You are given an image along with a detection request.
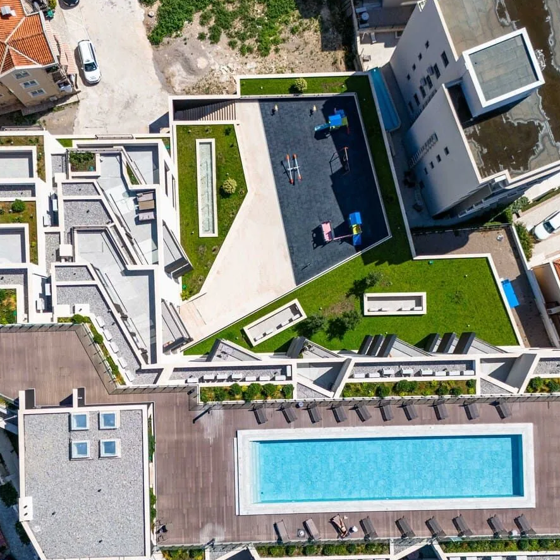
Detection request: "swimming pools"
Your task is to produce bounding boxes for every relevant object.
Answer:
[373,71,399,134]
[268,435,518,499]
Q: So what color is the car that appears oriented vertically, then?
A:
white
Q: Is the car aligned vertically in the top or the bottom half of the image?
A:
top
